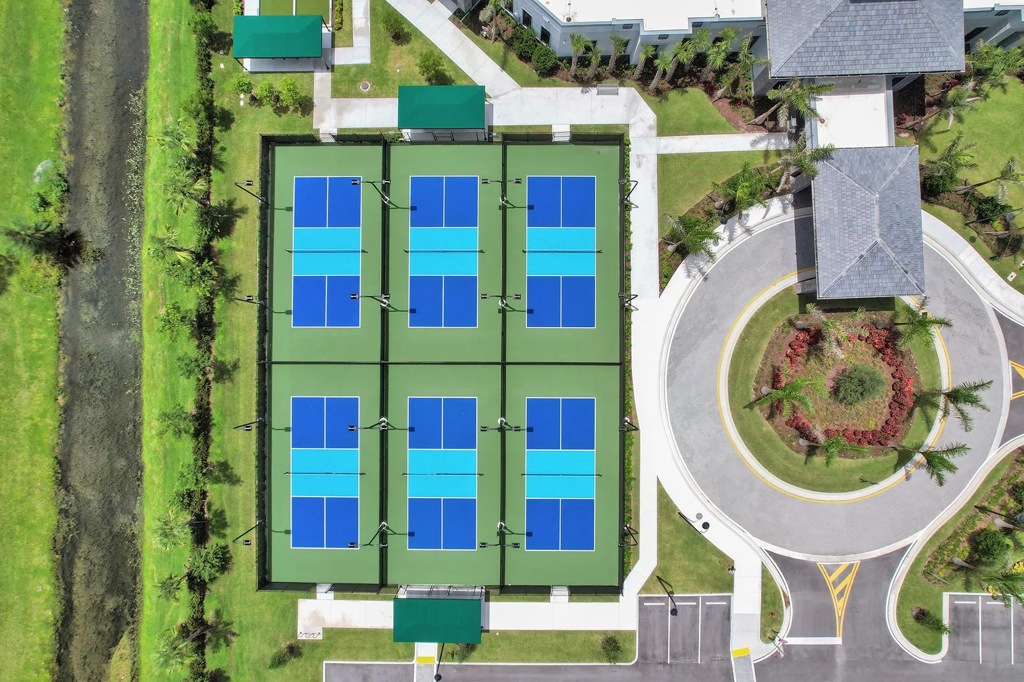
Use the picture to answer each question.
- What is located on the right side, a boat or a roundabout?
roundabout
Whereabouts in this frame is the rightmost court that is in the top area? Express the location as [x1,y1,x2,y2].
[502,141,620,363]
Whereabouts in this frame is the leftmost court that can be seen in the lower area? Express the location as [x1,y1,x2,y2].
[268,363,385,584]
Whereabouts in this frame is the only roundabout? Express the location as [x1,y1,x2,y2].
[659,212,1013,565]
